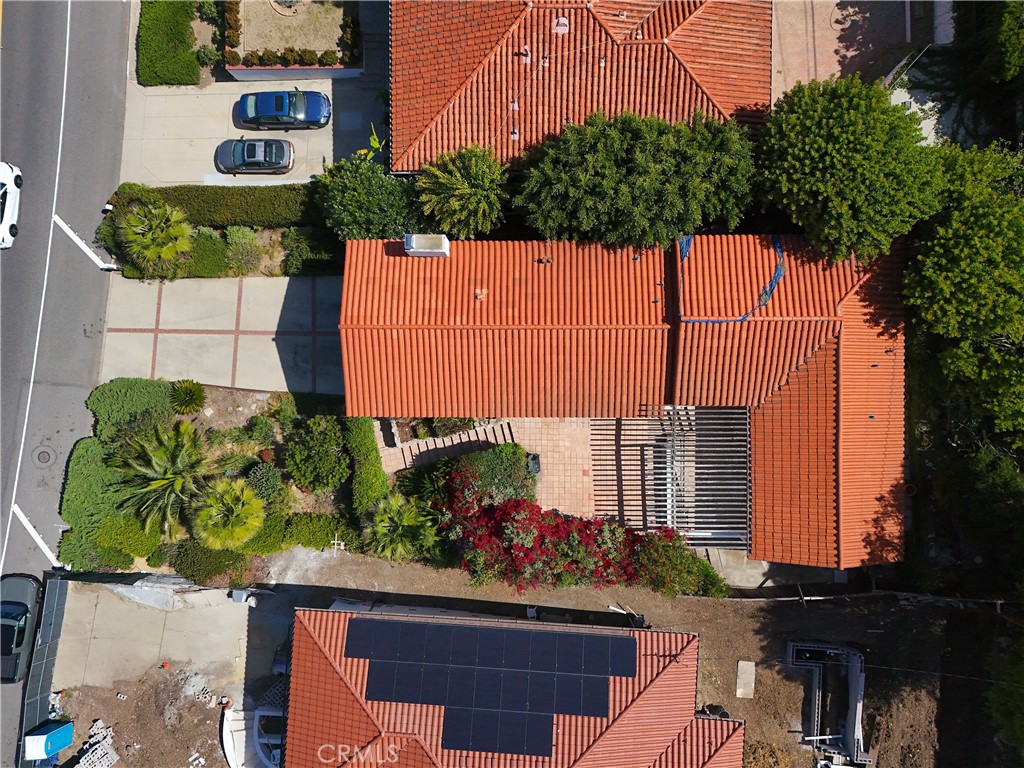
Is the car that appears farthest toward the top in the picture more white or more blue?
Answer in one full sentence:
The car that appears farthest toward the top looks blue in the image.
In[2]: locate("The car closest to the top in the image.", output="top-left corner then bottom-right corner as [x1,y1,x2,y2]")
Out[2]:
[238,87,333,134]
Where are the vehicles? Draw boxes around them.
[216,133,296,178]
[238,87,333,134]
[0,567,52,684]
[0,161,24,249]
